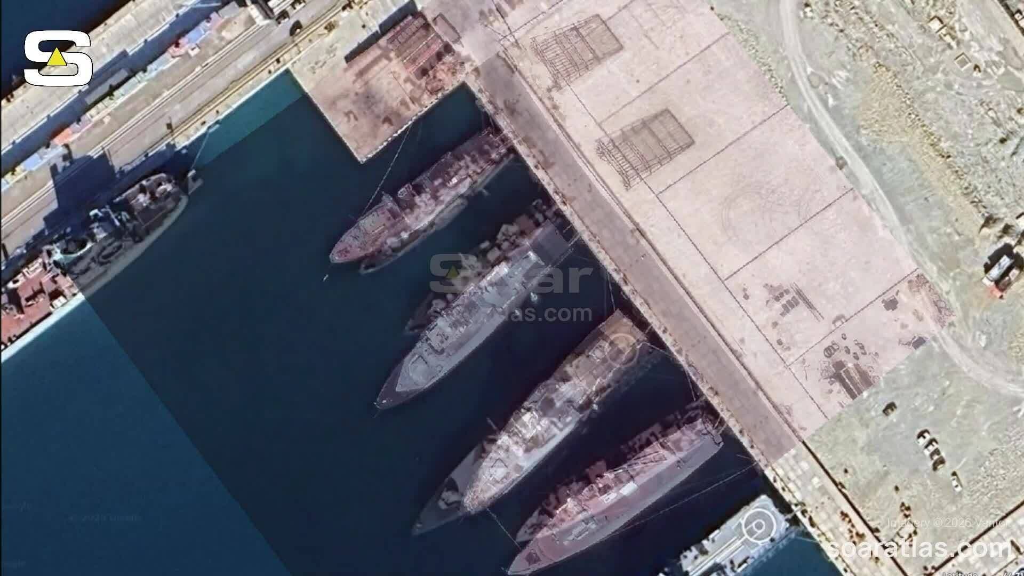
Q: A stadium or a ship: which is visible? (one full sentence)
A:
The image shows a ship.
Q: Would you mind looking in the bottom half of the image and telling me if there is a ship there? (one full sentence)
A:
Yes, a ship is visible in the bottom half of the image.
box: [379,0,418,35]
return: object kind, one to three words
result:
shed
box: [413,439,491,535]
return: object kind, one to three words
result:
boat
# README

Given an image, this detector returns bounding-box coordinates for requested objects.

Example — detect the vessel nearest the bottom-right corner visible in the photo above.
[658,494,791,576]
